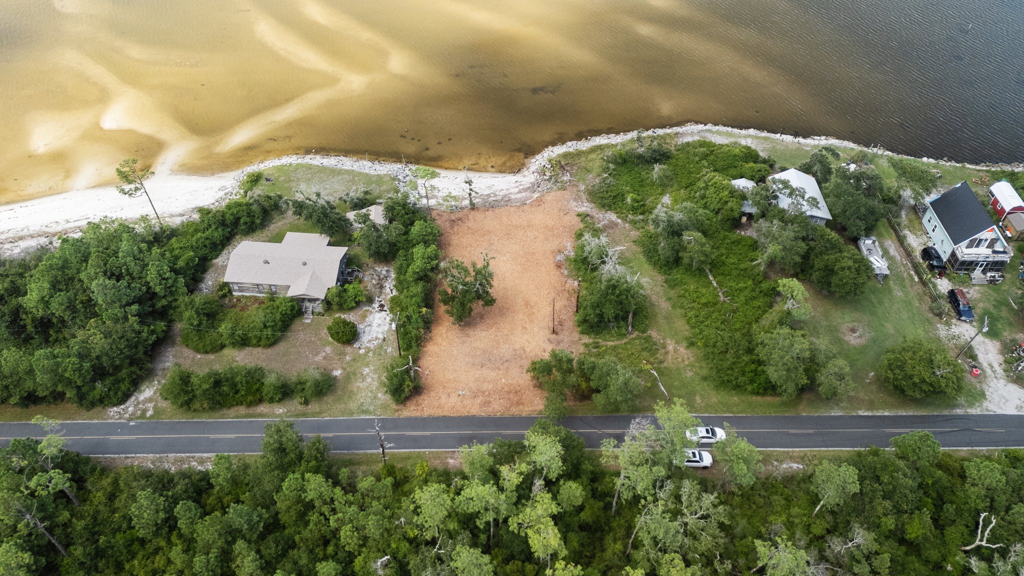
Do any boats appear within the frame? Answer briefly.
Yes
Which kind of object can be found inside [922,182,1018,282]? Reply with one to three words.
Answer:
house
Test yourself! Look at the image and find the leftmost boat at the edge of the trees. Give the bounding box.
[862,232,893,271]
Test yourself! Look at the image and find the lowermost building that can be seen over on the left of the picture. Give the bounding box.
[223,233,373,326]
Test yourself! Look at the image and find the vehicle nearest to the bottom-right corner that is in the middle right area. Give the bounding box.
[945,289,973,322]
